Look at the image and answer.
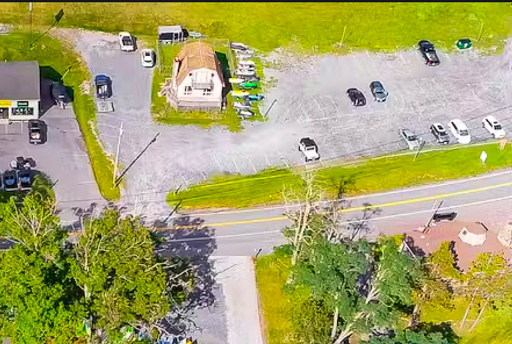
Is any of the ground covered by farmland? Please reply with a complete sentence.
No, the picture contains no farmland.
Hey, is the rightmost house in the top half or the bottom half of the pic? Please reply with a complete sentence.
The top half of the photo is where the rightmost house is.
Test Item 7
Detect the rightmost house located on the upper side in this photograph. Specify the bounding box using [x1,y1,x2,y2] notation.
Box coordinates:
[152,41,225,110]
